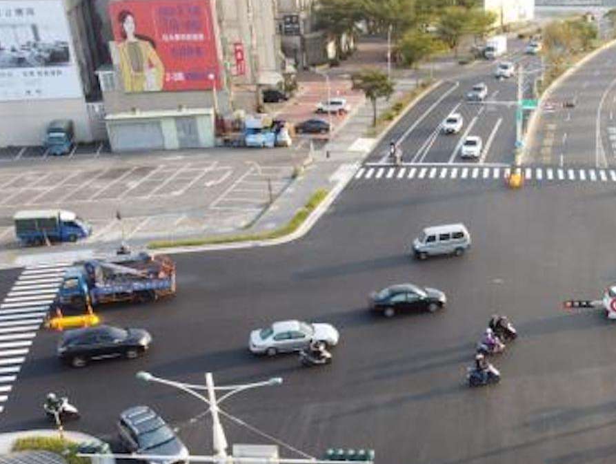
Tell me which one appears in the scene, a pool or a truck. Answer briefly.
truck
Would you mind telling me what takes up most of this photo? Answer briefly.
paved ground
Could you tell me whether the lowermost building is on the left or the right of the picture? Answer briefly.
left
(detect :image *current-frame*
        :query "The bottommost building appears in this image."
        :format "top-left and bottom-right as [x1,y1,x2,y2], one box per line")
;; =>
[100,101,218,152]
